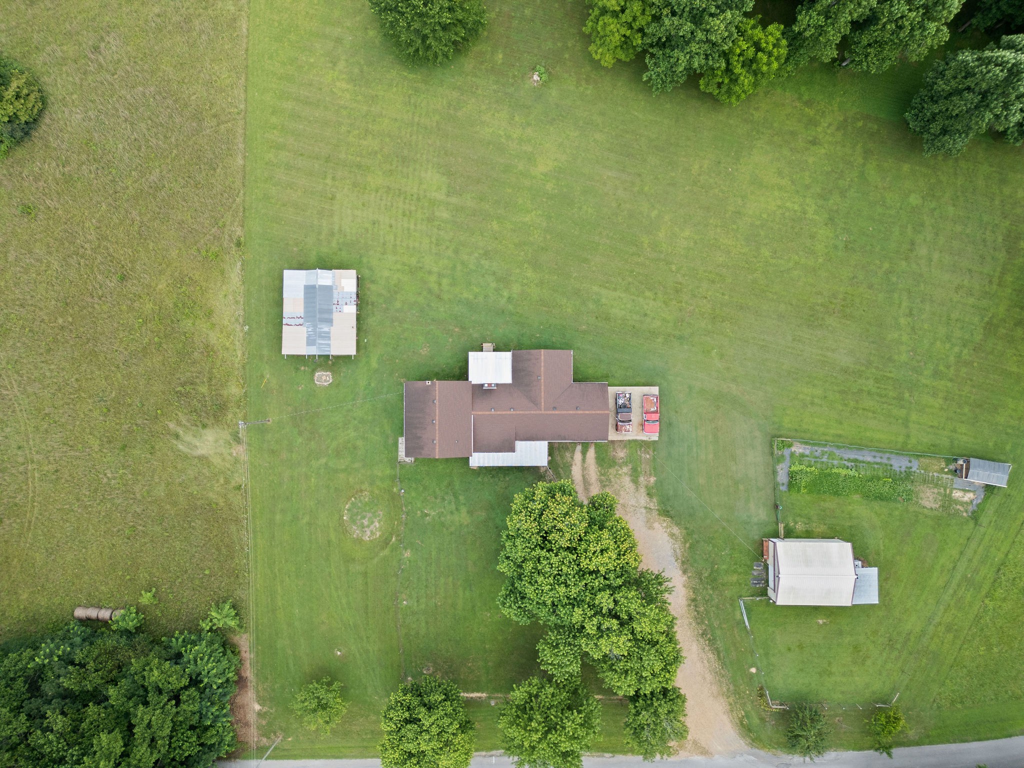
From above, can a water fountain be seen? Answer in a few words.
No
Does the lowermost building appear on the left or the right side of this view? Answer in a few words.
right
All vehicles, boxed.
[642,395,660,437]
[616,392,634,434]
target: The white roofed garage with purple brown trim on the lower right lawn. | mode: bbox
[769,538,878,606]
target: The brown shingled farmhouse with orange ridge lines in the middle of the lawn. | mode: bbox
[403,349,611,466]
